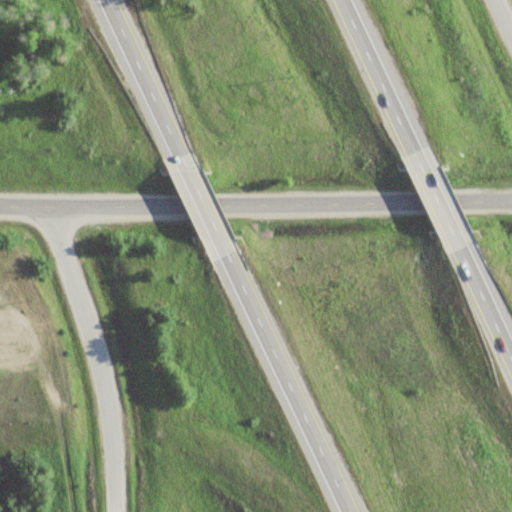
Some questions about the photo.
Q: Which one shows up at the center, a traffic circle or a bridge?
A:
bridge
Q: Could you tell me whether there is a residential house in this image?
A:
No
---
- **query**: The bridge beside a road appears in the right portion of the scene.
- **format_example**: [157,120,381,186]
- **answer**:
[393,144,488,256]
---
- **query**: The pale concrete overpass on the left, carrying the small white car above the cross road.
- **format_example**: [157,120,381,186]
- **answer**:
[157,149,250,262]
